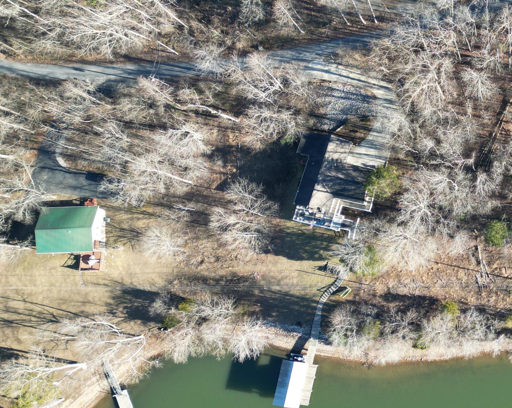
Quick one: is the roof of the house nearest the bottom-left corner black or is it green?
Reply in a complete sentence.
From above, the roof of the house nearest the bottom-left corner appears green.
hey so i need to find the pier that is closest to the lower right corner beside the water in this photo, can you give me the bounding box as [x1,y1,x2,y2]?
[301,365,321,406]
